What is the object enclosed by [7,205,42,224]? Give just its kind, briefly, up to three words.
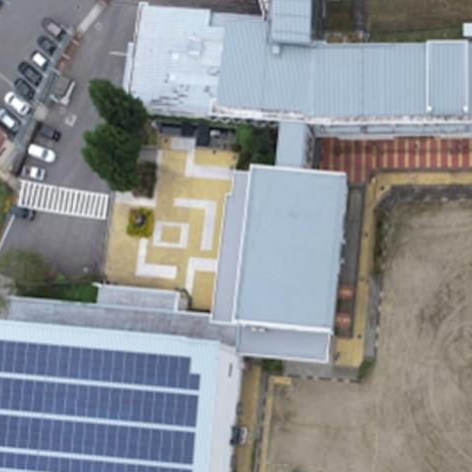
car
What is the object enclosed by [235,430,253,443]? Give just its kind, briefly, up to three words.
vehicle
